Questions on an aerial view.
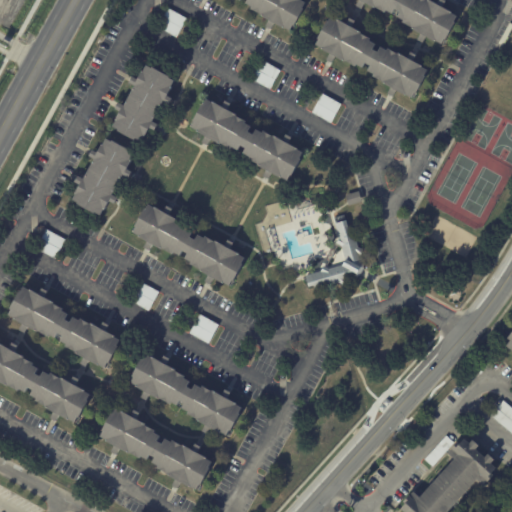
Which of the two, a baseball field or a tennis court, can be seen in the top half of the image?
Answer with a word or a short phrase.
tennis court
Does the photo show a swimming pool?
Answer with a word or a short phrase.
Yes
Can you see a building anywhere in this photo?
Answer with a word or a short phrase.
Yes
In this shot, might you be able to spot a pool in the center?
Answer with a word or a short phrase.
Yes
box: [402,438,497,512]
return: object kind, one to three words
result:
building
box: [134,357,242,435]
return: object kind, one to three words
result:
building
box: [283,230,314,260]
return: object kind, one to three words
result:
swimming pool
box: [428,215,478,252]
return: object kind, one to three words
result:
sports court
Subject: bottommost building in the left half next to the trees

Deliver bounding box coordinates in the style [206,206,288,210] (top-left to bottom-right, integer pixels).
[100,410,211,489]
